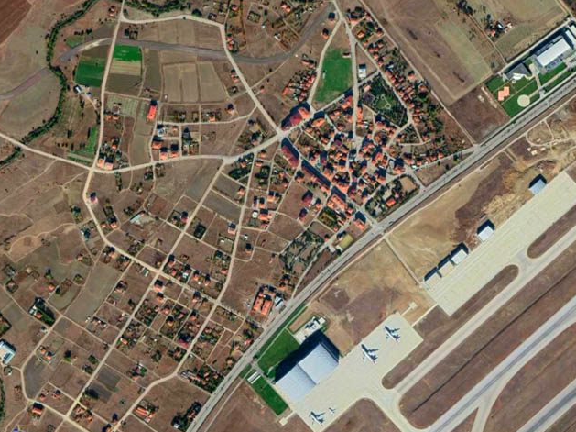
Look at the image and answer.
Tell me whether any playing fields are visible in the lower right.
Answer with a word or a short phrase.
No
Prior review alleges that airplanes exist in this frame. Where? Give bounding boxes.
[363,348,379,366]
[387,330,401,344]
[313,415,324,426]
